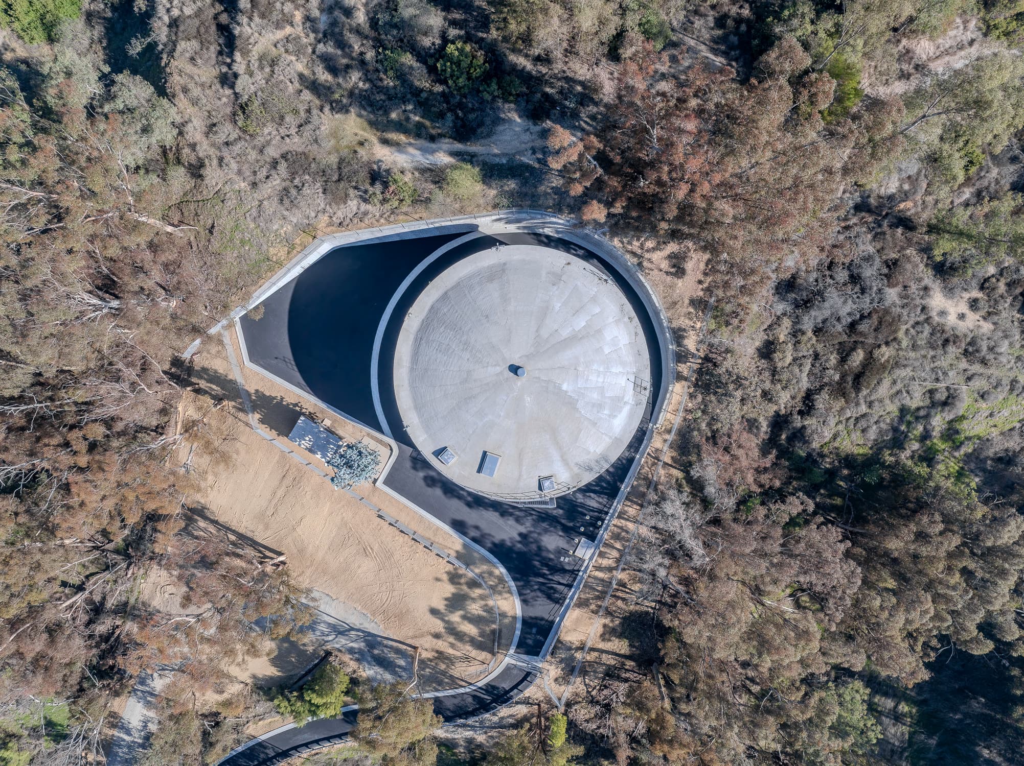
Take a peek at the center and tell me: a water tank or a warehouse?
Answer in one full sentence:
It is a water tank that can be seen at the center.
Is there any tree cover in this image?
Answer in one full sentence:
Yes, the picture does contain tree cover.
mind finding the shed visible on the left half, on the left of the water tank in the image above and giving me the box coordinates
[287,415,344,462]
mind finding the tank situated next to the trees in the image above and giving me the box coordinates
[393,244,652,511]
